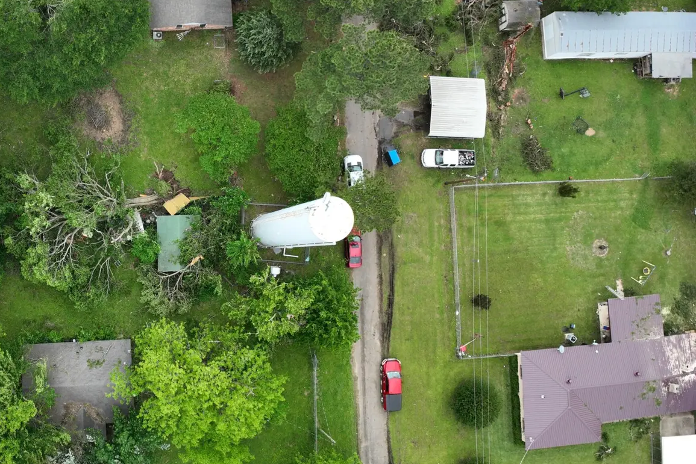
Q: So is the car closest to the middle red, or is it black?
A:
red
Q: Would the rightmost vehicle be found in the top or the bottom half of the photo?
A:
top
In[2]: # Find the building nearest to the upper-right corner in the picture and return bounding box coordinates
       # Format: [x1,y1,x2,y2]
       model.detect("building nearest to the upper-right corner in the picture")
[542,6,696,84]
